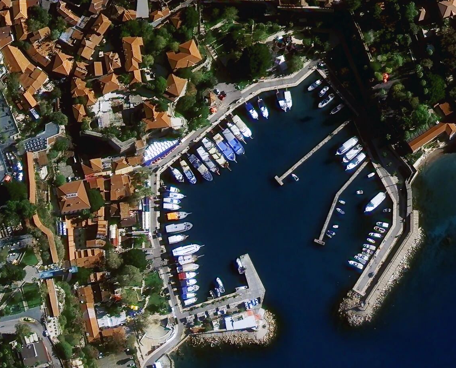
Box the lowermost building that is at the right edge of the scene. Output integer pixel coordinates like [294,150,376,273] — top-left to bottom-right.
[406,118,456,150]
